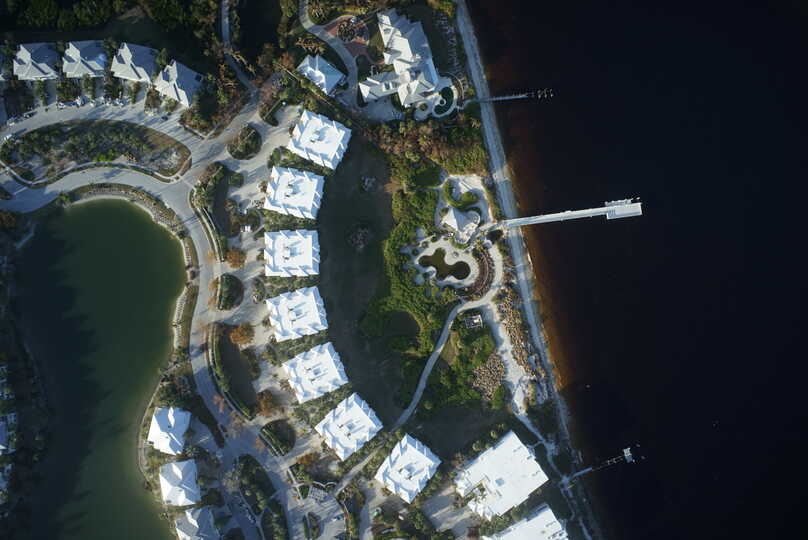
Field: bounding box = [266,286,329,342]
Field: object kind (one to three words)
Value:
building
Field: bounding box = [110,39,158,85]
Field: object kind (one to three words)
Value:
house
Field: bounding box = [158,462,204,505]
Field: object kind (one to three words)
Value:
house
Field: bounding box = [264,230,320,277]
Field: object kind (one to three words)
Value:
building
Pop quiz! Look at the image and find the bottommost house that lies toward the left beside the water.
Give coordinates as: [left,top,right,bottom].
[174,504,221,540]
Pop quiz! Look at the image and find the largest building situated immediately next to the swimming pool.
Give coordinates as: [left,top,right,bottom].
[356,9,447,110]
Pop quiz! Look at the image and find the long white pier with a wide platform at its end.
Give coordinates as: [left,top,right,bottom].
[499,198,643,230]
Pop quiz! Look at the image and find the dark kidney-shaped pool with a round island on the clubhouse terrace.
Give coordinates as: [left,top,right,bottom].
[435,87,454,114]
